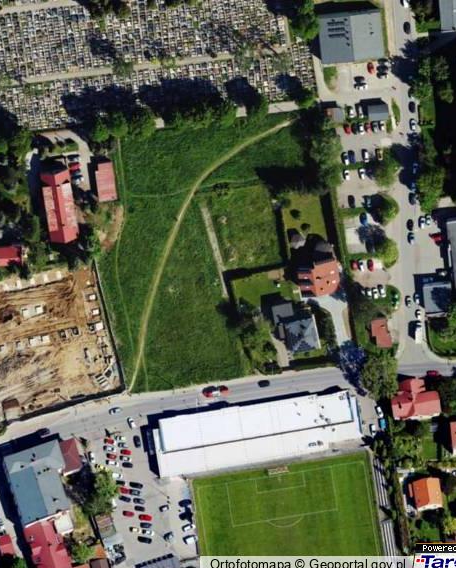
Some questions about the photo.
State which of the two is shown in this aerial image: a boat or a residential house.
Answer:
residential house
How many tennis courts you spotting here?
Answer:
0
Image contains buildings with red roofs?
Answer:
Yes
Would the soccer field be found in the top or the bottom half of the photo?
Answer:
bottom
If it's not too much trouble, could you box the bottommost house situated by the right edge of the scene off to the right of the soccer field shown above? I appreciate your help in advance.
[409,479,443,507]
